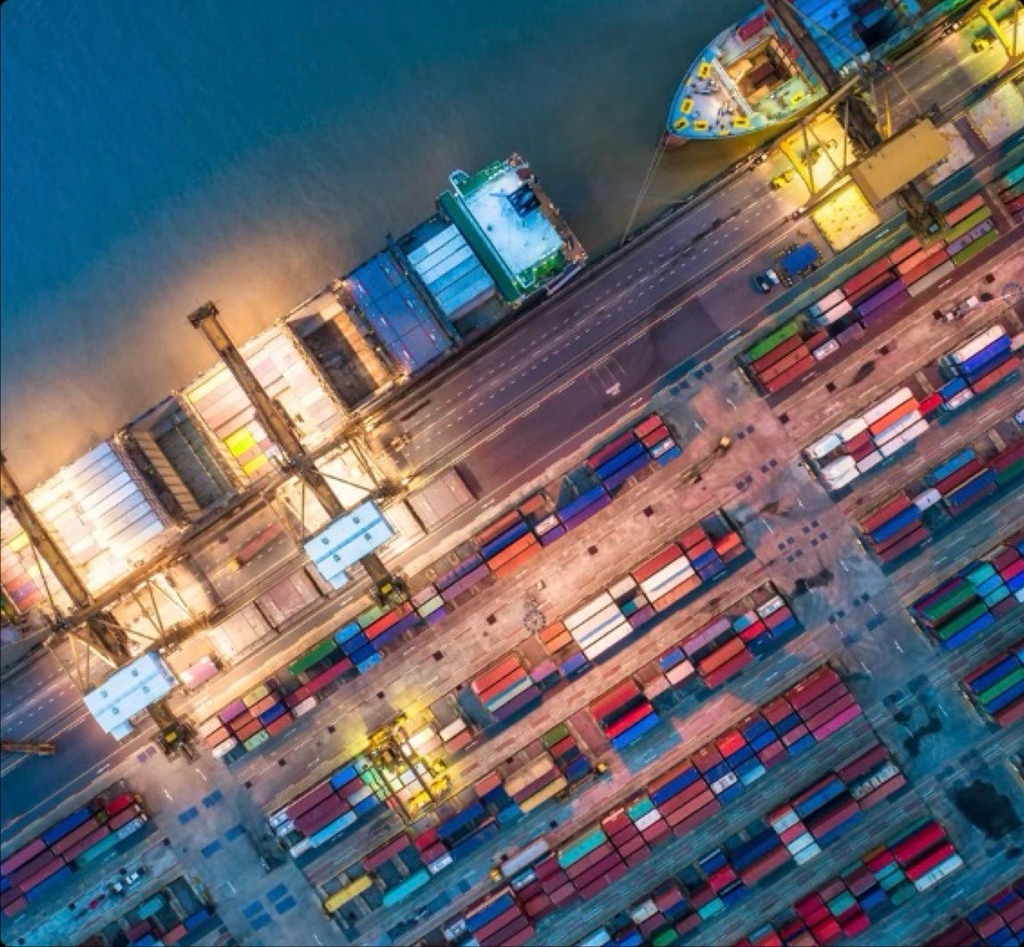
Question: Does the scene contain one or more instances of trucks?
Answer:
Yes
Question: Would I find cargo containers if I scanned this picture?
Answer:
Yes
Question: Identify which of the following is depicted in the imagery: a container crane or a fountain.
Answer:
container crane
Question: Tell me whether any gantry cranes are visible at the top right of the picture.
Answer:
Yes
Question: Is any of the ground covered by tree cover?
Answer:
No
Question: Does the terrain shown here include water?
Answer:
Yes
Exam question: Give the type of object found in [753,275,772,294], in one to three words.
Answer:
car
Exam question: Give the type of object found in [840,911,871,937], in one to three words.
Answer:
shipping container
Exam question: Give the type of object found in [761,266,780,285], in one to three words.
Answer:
car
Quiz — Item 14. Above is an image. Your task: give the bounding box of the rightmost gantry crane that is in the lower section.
[357,697,463,830]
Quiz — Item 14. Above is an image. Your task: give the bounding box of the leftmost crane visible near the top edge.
[749,0,961,247]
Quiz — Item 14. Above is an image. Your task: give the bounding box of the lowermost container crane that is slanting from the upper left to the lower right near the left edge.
[0,461,223,765]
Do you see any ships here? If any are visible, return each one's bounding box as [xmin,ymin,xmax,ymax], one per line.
[0,161,584,663]
[664,0,976,150]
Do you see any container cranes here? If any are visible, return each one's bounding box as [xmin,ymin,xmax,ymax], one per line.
[944,0,1024,89]
[357,697,463,830]
[749,0,961,247]
[179,299,414,620]
[0,461,223,765]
